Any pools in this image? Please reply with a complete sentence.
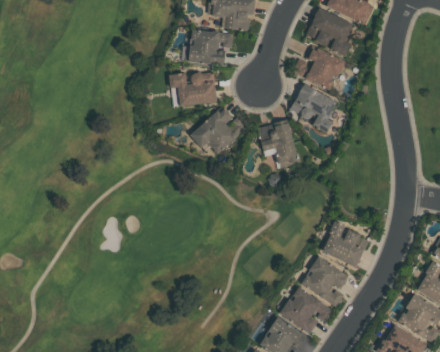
Yes, the photo shows a pool.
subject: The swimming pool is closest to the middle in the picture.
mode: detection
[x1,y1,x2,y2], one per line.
[244,148,260,172]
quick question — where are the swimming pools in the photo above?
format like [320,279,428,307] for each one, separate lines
[304,126,334,146]
[186,0,204,18]
[244,148,260,172]
[391,298,404,318]
[252,324,266,340]
[164,123,187,142]
[170,32,186,52]
[342,76,356,94]
[427,222,440,237]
